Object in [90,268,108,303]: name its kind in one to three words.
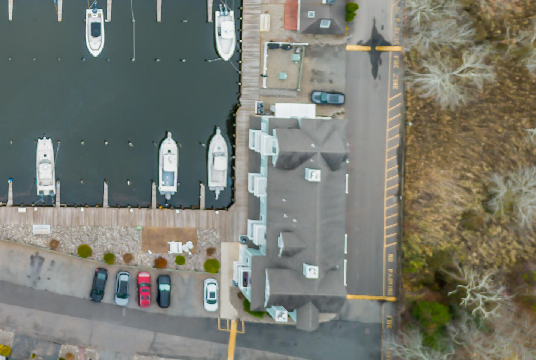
car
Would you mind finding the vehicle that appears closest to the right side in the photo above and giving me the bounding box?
[311,90,346,105]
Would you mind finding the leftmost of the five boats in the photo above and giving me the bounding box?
[36,134,55,204]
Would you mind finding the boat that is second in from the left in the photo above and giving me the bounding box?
[86,2,104,57]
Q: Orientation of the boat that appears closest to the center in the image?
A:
up and down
